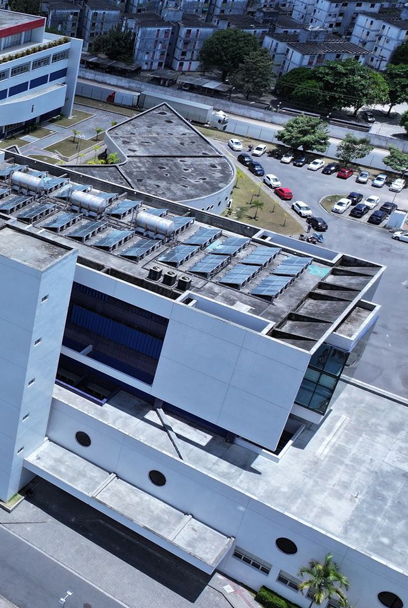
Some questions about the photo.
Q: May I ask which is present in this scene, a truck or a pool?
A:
truck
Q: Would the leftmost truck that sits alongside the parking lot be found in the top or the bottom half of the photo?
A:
top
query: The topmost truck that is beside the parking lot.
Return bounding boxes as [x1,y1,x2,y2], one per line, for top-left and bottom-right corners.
[155,89,238,128]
